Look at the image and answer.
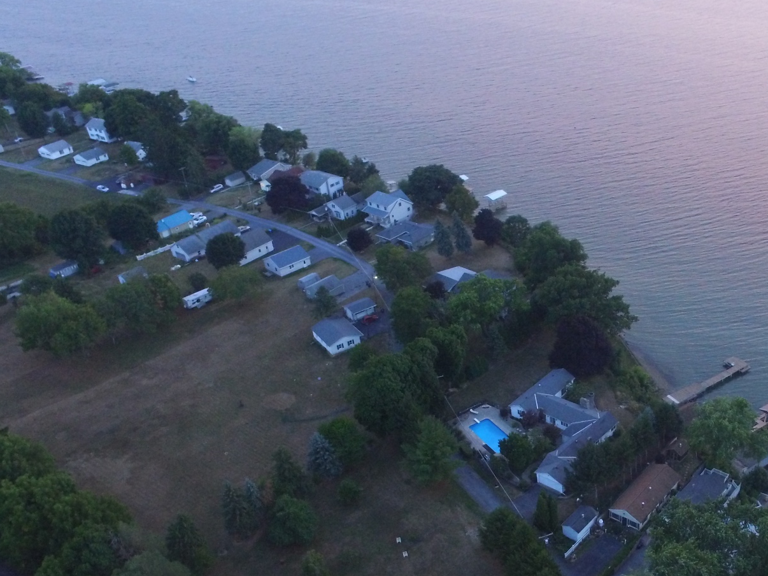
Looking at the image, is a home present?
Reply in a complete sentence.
Yes, this view includes a home.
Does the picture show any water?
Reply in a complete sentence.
Yes, there is water in the image.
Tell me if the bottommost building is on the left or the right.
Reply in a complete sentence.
The bottommost building appears in the right half of the scene.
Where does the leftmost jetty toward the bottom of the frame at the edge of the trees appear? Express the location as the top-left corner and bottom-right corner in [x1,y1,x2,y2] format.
[664,359,750,405]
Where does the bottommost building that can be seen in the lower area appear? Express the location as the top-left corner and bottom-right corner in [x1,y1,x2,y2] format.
[561,508,600,545]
